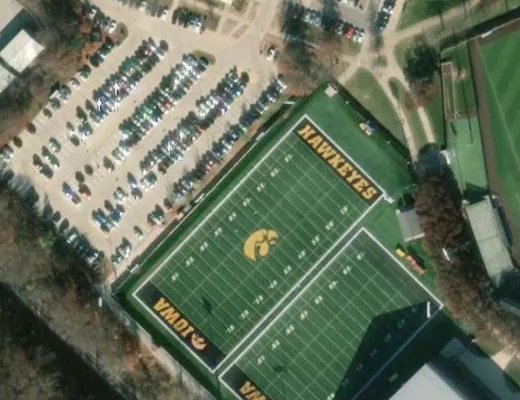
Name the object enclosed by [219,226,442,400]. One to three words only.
sports field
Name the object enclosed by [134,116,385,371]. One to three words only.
sports field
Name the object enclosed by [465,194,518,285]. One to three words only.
building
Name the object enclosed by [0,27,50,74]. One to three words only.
building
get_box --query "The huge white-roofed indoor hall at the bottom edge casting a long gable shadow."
[391,353,483,400]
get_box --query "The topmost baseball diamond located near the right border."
[471,19,520,294]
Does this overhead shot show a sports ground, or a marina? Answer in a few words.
sports ground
